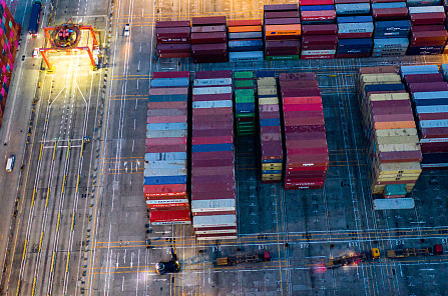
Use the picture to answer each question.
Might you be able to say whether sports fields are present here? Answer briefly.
No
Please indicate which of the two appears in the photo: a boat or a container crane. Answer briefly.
container crane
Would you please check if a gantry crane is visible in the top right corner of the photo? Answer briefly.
No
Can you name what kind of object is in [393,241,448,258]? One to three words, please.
vehicle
